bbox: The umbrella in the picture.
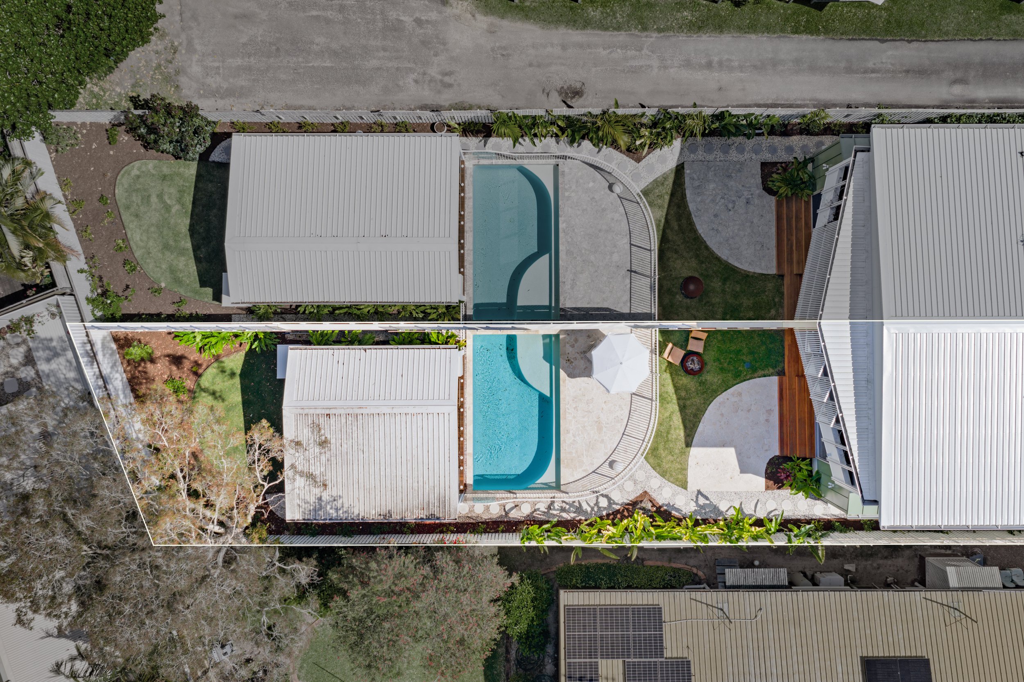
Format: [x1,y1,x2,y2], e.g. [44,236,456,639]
[589,332,650,393]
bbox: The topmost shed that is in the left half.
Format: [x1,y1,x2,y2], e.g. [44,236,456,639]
[221,129,465,309]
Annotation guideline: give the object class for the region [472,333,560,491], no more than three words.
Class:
swimming pool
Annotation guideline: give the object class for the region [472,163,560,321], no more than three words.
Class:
swimming pool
